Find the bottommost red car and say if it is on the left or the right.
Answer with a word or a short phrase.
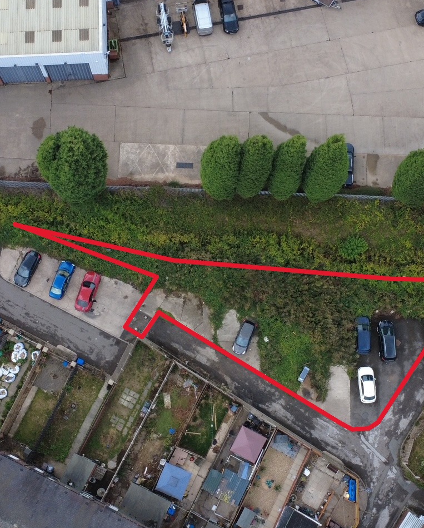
left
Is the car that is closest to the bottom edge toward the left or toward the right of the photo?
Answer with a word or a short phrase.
right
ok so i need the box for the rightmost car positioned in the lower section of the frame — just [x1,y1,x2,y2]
[376,319,398,362]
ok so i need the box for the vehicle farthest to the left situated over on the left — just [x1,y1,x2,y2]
[13,248,40,287]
